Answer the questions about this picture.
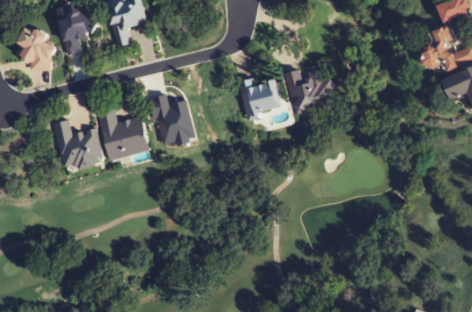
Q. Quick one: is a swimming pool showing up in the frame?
Yes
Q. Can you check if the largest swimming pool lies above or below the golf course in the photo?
above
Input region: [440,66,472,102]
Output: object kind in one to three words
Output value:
house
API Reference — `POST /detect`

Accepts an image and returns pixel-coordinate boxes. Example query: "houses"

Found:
[108,0,146,42]
[56,2,94,54]
[422,26,472,72]
[437,0,472,21]
[52,119,105,171]
[440,66,472,102]
[286,69,335,111]
[20,28,57,76]
[240,78,282,120]
[101,112,151,159]
[152,94,194,146]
